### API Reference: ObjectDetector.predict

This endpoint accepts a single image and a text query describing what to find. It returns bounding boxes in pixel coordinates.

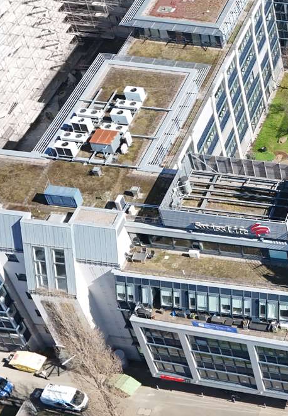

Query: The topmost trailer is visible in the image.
[4,354,54,378]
